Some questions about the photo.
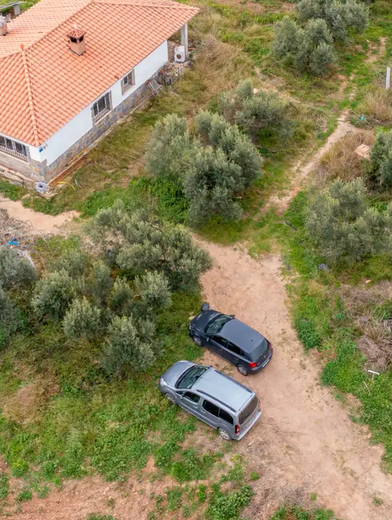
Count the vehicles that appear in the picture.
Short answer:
two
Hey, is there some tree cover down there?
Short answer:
Yes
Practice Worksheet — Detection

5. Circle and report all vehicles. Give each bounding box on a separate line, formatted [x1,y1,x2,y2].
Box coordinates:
[189,309,275,377]
[158,357,263,442]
